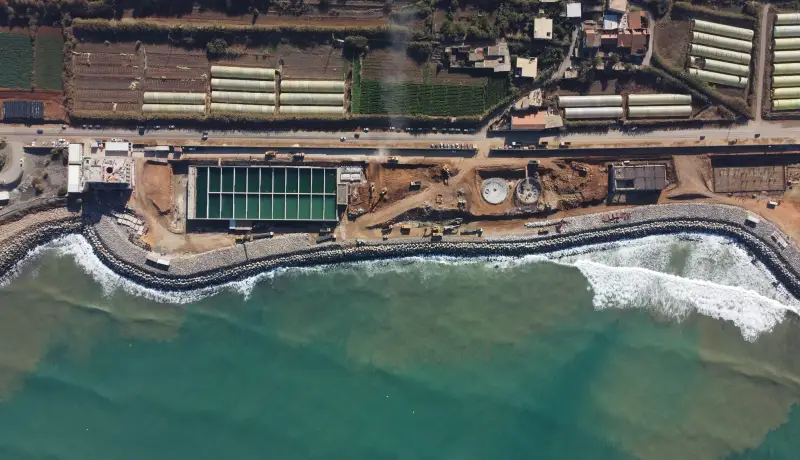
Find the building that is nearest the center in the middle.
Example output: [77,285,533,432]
[338,166,362,205]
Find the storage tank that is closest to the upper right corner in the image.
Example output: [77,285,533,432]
[513,166,541,204]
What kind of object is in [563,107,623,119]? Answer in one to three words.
greenhouse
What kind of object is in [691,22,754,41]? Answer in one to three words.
greenhouse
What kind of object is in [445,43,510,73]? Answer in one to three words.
house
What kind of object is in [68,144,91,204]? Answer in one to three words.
building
